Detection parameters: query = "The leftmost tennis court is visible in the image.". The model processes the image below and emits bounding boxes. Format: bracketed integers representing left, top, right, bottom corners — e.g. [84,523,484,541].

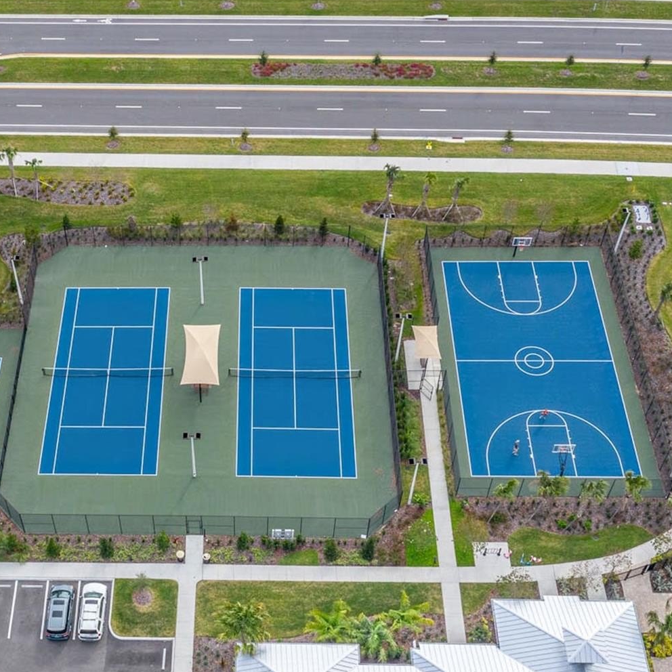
[38,287,174,474]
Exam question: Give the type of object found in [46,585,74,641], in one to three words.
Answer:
car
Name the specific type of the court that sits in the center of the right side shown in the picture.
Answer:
basketball court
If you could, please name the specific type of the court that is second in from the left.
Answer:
tennis court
